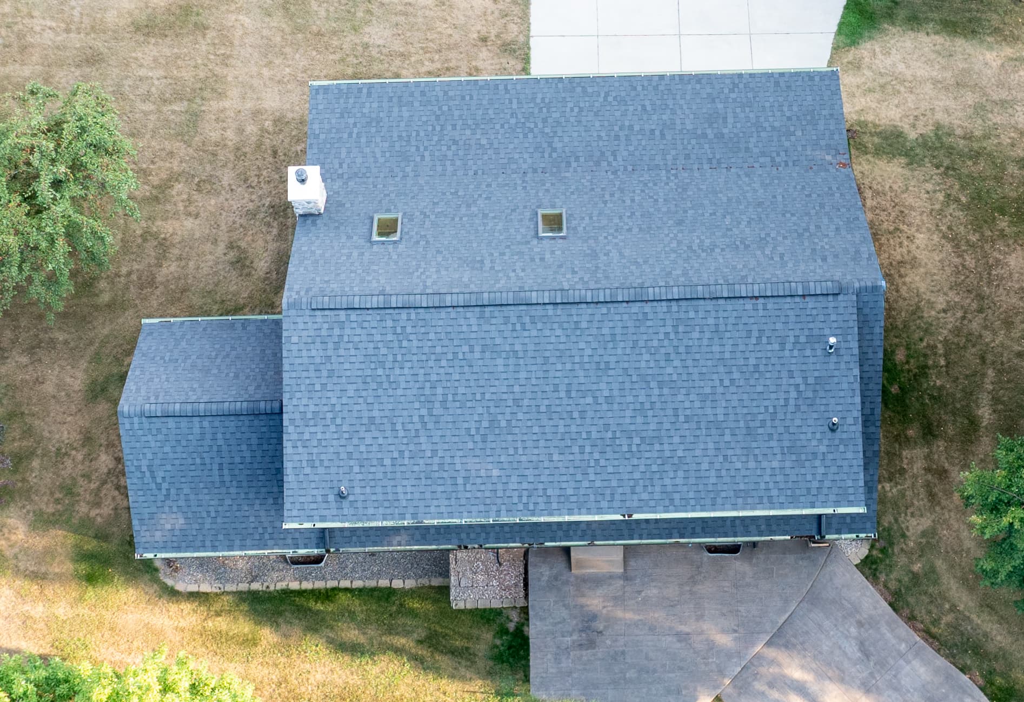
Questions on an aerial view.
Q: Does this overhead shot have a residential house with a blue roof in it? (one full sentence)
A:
Yes, a residential house with a blue roof is visible in the scene.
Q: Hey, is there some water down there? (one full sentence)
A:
No, water can't be seen anywhere here.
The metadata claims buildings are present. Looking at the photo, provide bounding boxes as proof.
[117,66,888,559]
